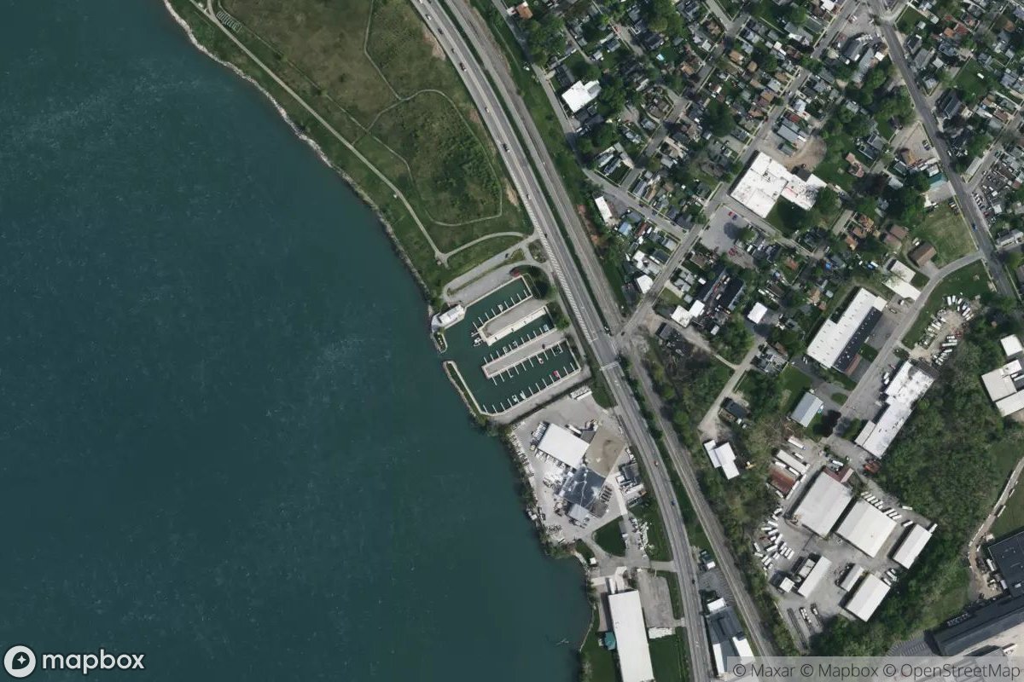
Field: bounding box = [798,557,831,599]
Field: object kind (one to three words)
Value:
shed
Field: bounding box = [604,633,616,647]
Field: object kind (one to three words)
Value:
gazebo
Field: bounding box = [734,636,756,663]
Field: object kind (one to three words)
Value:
building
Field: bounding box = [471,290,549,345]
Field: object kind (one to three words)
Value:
pier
